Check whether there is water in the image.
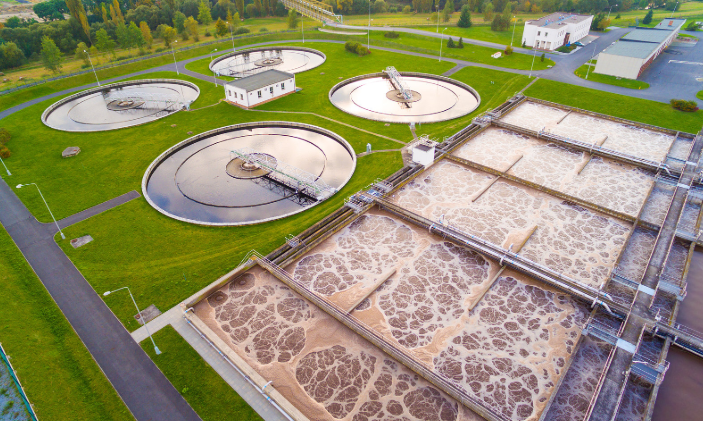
Yes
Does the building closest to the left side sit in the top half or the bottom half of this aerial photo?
top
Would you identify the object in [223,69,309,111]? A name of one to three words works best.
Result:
building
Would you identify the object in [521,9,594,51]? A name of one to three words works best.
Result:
building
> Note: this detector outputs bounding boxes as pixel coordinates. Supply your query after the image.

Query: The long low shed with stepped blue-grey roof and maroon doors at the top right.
[593,14,685,80]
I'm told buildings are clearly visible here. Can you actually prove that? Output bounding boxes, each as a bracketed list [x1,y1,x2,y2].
[521,9,594,51]
[223,69,309,111]
[410,138,437,166]
[593,14,685,80]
